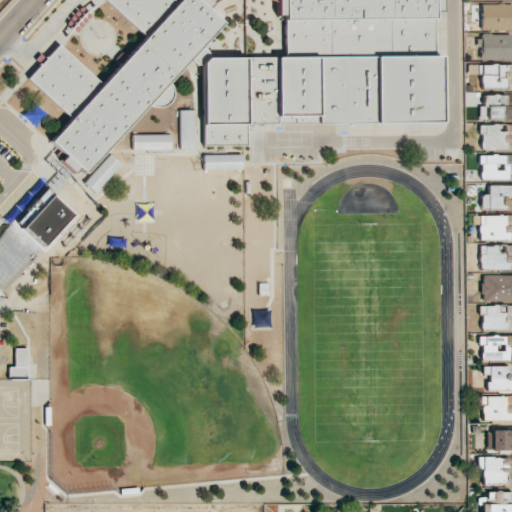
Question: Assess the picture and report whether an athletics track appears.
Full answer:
Yes, this view includes an athletics track.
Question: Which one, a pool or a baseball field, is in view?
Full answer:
There is a baseball field in the scene.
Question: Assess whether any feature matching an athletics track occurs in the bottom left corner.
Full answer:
No, no athletics track can be made out in the bottom left corner.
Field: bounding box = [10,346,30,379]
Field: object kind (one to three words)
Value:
building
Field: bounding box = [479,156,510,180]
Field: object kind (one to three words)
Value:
house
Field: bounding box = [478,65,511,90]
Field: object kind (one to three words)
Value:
house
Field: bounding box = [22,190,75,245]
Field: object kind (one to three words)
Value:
building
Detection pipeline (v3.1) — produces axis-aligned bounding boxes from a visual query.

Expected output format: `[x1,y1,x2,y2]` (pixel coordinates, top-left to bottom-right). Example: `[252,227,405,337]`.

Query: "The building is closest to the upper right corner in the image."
[482,3,512,31]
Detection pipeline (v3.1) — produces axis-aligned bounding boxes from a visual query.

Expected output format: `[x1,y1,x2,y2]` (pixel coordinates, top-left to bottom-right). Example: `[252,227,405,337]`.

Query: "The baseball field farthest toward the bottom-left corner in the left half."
[50,258,283,492]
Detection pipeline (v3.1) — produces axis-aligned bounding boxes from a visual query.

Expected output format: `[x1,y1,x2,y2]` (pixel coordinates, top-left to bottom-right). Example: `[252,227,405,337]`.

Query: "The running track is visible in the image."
[284,164,454,500]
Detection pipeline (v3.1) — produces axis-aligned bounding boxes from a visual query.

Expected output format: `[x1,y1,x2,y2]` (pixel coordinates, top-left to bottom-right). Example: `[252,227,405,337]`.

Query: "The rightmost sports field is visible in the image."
[298,177,442,487]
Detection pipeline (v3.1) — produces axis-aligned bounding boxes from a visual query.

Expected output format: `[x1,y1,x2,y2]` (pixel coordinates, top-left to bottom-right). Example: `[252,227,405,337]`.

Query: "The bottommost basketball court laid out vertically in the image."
[0,384,31,461]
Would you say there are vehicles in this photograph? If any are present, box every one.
[26,20,34,28]
[19,27,28,36]
[0,148,9,156]
[6,152,14,160]
[44,0,52,8]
